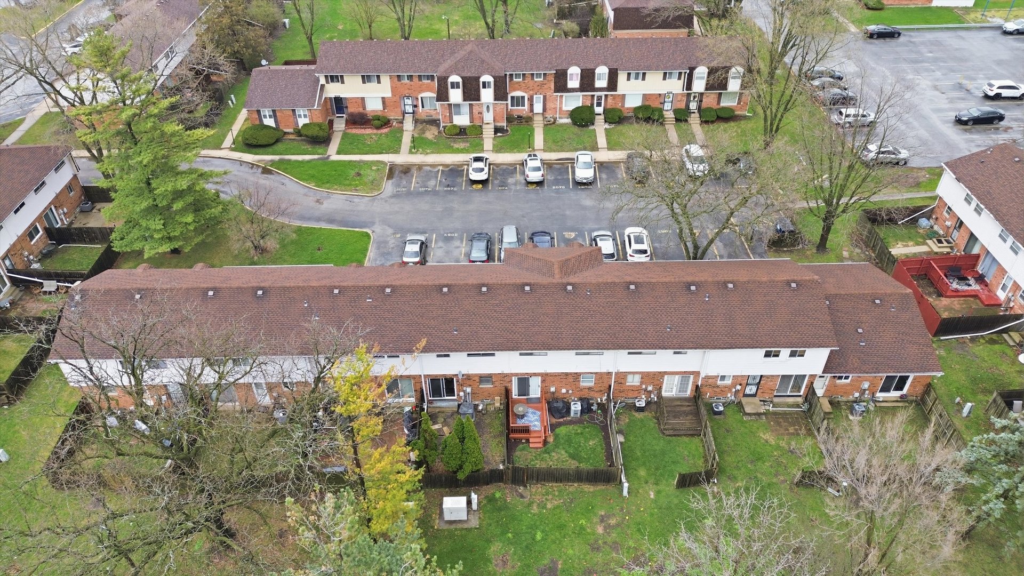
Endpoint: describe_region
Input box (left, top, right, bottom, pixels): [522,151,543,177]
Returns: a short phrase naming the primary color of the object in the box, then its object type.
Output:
white car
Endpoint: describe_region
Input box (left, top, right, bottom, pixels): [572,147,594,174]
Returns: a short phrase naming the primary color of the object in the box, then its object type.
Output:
white car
